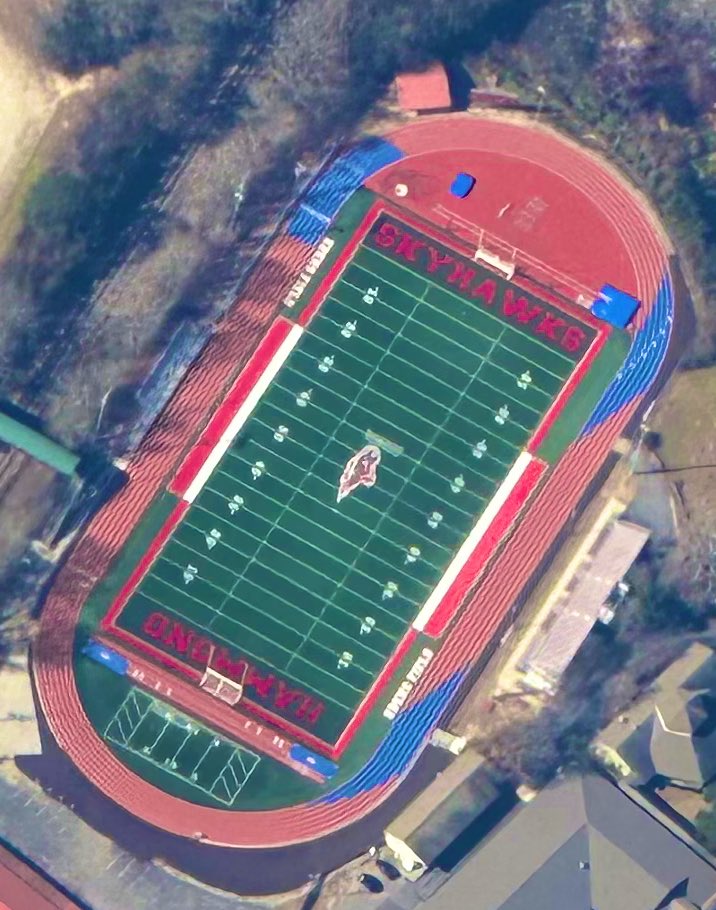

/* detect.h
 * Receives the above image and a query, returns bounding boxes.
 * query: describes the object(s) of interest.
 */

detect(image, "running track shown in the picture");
[30,114,673,846]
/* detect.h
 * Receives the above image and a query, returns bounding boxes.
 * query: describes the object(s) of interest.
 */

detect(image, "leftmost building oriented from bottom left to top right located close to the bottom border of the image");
[382,748,505,875]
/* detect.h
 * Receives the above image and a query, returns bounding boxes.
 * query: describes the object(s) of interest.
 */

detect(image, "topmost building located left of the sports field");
[0,411,81,491]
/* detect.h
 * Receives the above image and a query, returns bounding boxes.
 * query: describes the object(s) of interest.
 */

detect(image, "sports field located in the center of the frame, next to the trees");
[102,202,608,759]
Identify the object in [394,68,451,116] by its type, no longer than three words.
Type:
shed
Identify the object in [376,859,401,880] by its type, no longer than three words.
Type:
car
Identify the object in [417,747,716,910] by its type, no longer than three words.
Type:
building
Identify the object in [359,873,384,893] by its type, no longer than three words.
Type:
car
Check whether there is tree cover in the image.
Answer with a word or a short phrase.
Yes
